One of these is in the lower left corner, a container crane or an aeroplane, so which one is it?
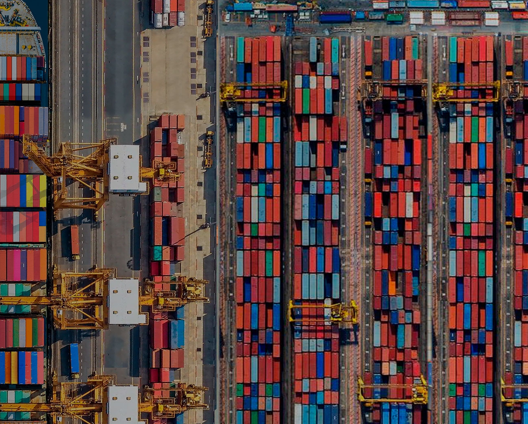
container crane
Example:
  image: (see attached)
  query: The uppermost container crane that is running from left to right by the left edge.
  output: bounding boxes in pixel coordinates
[18,131,182,199]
